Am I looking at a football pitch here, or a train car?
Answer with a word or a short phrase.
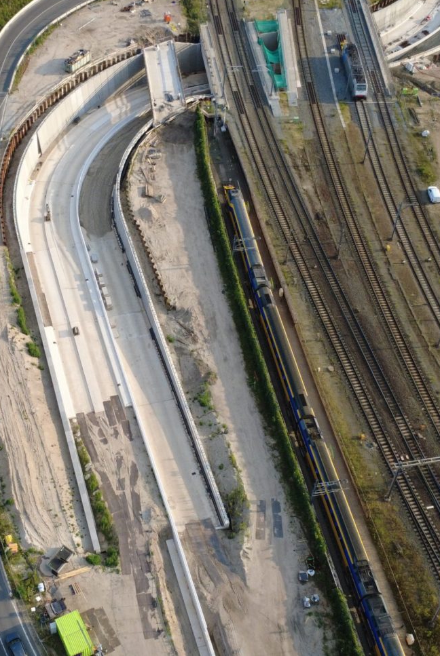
train car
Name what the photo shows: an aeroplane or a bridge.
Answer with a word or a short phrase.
bridge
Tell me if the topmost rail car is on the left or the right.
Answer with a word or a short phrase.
right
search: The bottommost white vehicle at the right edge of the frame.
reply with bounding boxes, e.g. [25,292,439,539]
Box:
[427,184,440,202]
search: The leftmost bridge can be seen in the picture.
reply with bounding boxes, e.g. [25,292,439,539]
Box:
[143,39,185,128]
